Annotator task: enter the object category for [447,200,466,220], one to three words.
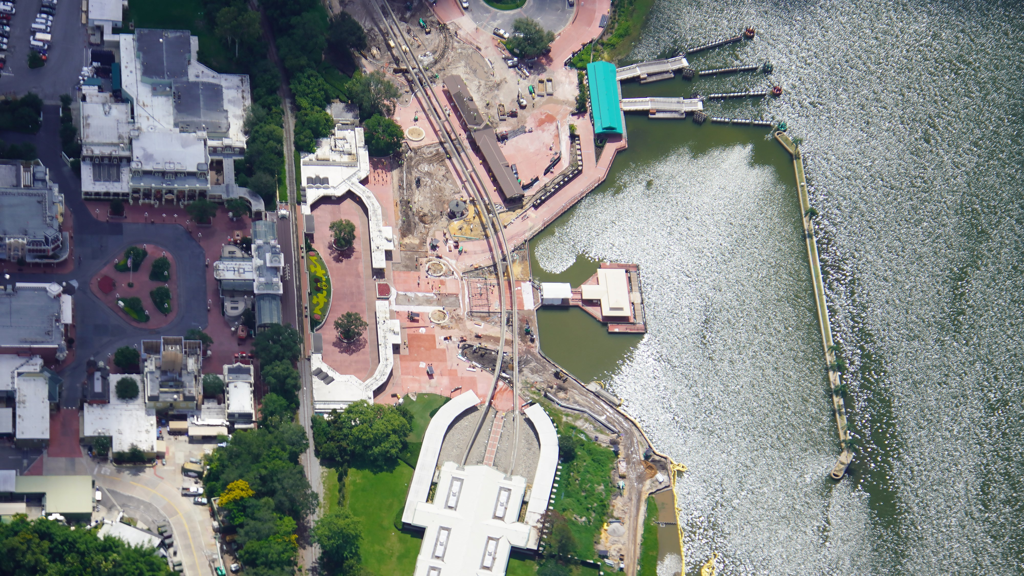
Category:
gazebo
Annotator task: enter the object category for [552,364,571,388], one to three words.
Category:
work vehicle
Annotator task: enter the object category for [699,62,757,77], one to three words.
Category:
pier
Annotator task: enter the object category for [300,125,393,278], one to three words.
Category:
building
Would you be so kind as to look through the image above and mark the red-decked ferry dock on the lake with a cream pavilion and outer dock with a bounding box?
[570,261,647,337]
